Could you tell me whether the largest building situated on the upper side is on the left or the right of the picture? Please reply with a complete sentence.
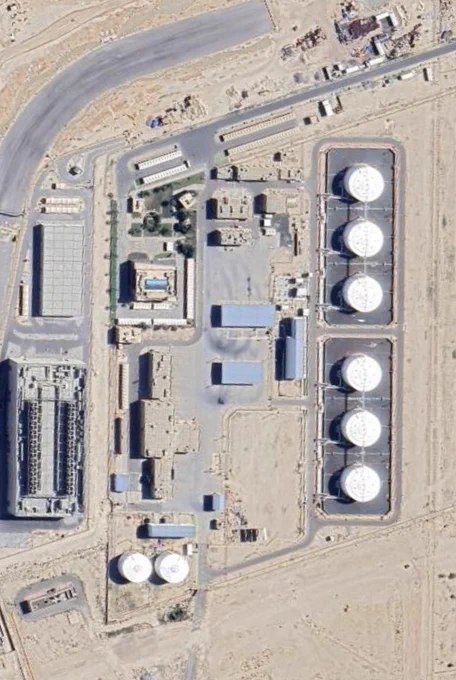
It is on the left.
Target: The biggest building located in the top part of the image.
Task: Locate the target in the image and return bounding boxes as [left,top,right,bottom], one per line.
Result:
[40,224,84,316]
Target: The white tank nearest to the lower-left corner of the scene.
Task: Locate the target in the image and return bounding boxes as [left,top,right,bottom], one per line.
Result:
[118,548,153,582]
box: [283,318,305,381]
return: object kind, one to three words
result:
building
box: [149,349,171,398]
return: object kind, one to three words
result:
building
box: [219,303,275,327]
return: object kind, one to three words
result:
shed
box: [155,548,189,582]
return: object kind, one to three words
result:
storage tank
